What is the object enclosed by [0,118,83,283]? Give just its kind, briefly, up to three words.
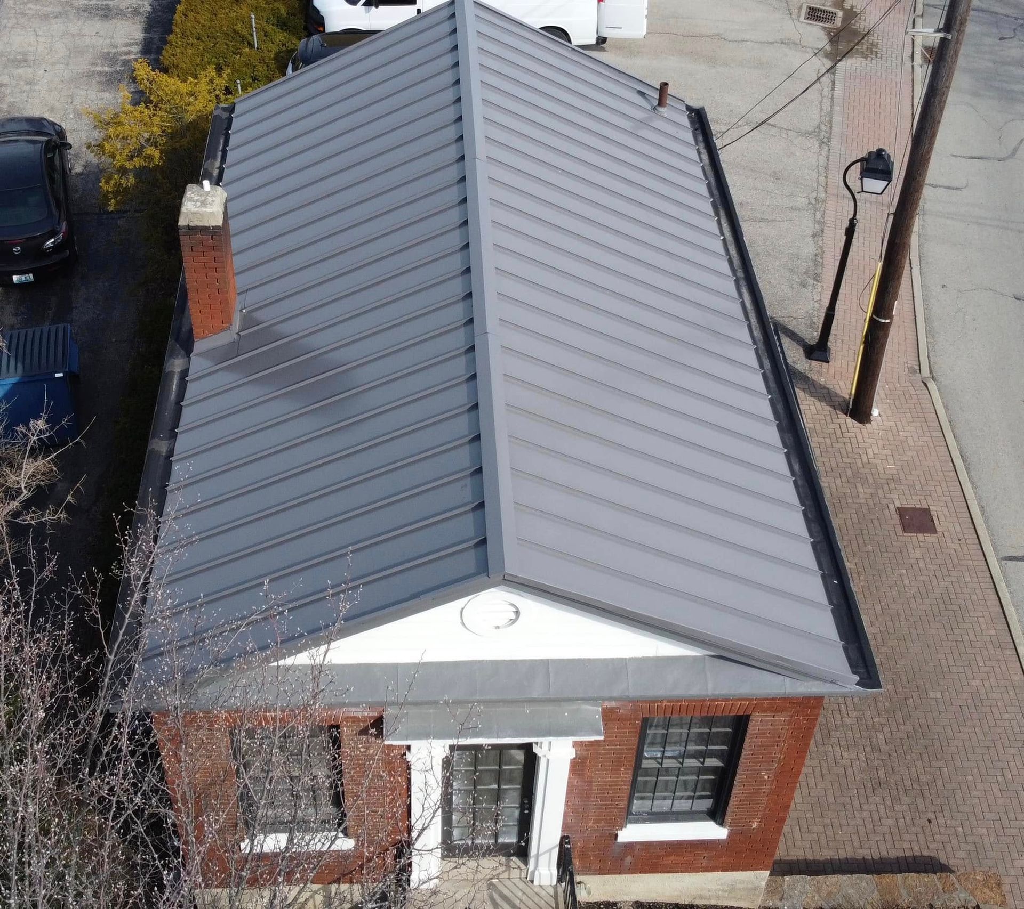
car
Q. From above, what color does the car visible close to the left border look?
black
